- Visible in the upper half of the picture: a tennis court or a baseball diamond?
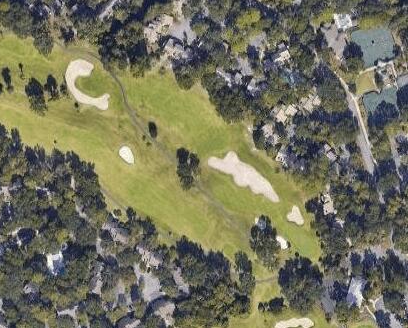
tennis court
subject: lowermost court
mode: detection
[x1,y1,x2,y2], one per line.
[360,84,400,121]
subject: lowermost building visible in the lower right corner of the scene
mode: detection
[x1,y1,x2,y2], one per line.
[343,275,368,308]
